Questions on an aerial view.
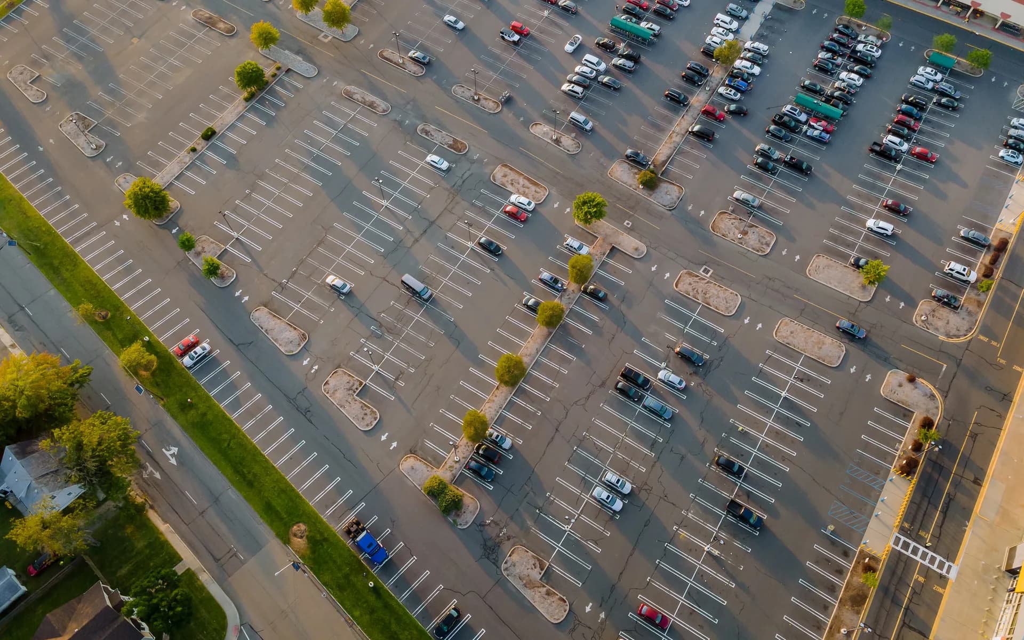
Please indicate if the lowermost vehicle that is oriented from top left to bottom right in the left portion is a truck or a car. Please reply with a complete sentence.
What you see as the lowermost vehicle that is oriented from top left to bottom right in the left portion is a truck.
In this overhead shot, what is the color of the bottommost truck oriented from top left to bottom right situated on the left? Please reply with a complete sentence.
The bottommost truck oriented from top left to bottom right situated on the left looks blue in the image.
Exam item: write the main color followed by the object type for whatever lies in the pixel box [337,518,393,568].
blue truck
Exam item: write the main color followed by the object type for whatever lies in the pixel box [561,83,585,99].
white car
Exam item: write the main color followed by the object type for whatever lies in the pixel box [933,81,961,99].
blue car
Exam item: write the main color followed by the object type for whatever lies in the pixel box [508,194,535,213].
white car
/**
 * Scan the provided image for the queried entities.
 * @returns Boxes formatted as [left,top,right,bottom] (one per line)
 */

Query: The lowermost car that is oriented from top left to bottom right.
[635,602,672,633]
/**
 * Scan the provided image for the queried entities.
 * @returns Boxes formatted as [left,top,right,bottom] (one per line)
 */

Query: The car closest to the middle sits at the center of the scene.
[518,295,540,313]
